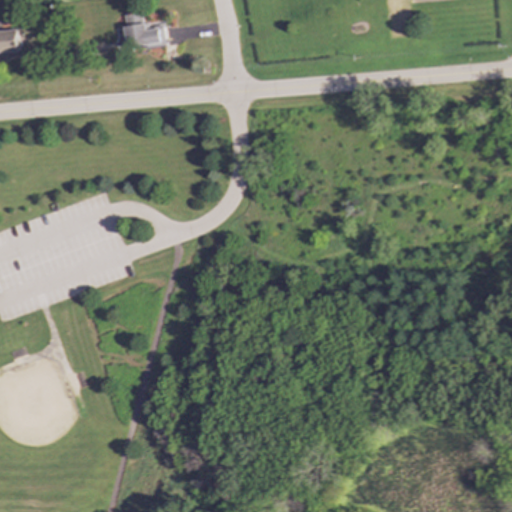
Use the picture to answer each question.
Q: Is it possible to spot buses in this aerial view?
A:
No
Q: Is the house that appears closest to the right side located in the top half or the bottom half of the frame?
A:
top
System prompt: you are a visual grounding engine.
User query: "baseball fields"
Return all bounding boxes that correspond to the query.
[0,358,126,512]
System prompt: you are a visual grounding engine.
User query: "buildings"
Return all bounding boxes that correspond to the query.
[0,29,23,52]
[124,13,164,46]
